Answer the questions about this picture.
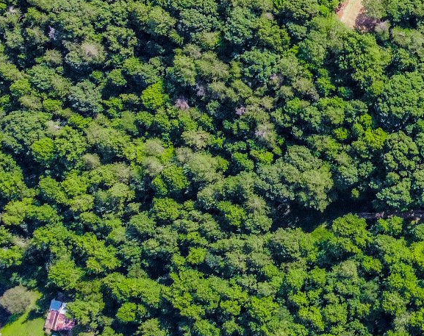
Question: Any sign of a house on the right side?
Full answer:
No, on the right side there is no house.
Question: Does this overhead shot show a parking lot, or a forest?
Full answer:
What you see here is a forest.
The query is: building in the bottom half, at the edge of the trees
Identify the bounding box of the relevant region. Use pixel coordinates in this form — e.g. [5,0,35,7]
[45,298,75,332]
